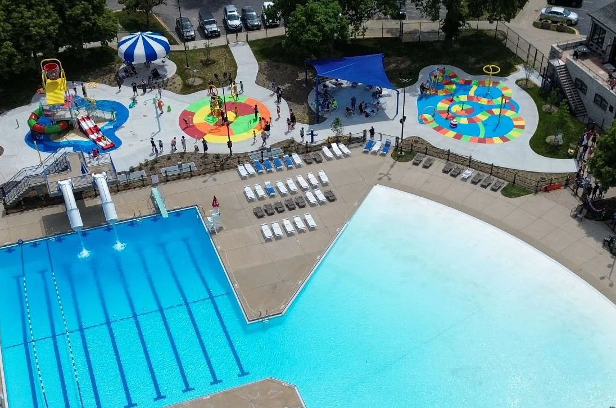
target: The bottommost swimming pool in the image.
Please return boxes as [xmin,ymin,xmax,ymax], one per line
[0,185,616,408]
